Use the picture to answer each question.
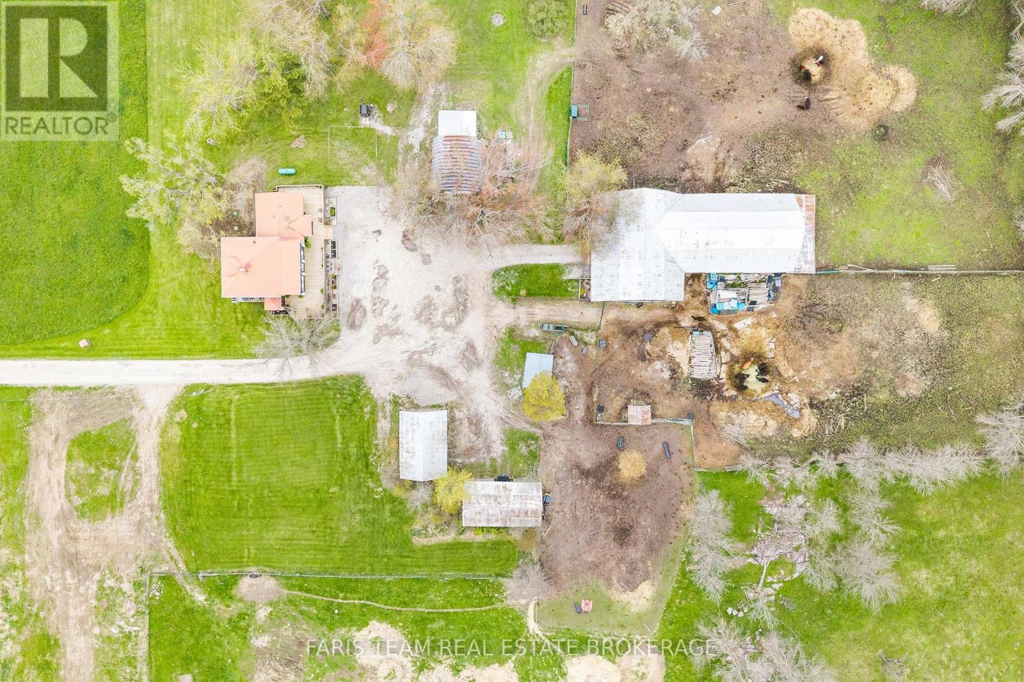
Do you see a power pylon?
No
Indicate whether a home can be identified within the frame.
Yes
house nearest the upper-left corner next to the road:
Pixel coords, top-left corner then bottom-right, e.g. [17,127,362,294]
[221,191,315,311]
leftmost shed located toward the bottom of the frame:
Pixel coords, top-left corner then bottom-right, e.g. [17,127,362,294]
[399,411,447,483]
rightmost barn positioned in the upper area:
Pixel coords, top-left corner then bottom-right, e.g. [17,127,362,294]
[589,188,816,303]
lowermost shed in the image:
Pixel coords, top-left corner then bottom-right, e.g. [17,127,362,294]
[462,481,543,527]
